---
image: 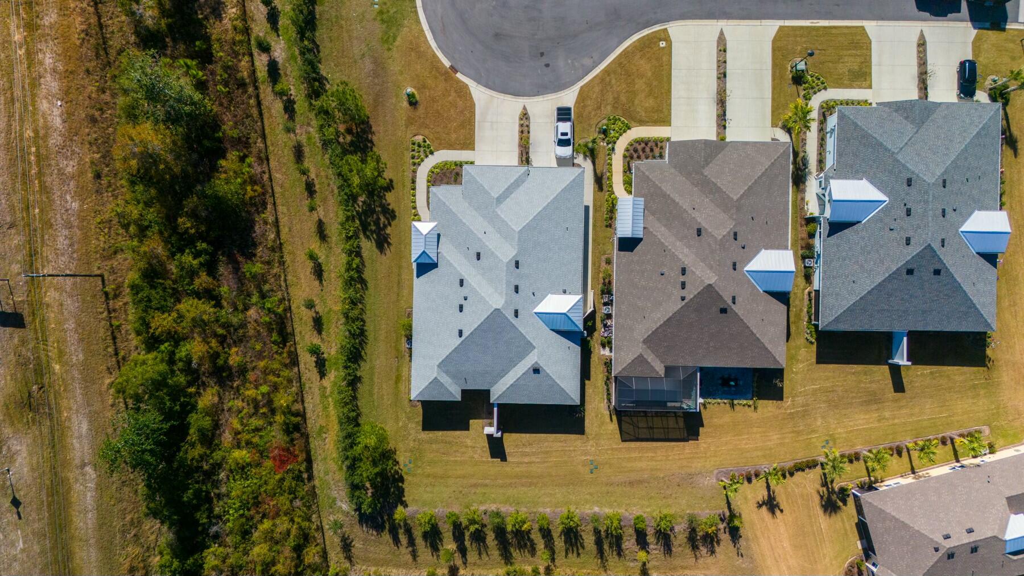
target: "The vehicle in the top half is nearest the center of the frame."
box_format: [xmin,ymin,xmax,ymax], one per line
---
[553,106,575,160]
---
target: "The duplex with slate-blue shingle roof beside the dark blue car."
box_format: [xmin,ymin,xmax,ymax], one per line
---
[811,99,1013,333]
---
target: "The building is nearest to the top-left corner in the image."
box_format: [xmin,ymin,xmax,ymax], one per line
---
[410,163,585,407]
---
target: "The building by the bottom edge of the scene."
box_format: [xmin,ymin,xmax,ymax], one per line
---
[851,439,1024,576]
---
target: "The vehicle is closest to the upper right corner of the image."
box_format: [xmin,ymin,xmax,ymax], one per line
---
[954,59,978,101]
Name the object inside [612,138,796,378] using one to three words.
house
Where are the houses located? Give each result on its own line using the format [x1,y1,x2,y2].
[612,138,796,378]
[851,439,1024,576]
[811,99,1013,333]
[410,163,585,407]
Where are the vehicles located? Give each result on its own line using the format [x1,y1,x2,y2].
[954,59,978,101]
[553,106,575,160]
